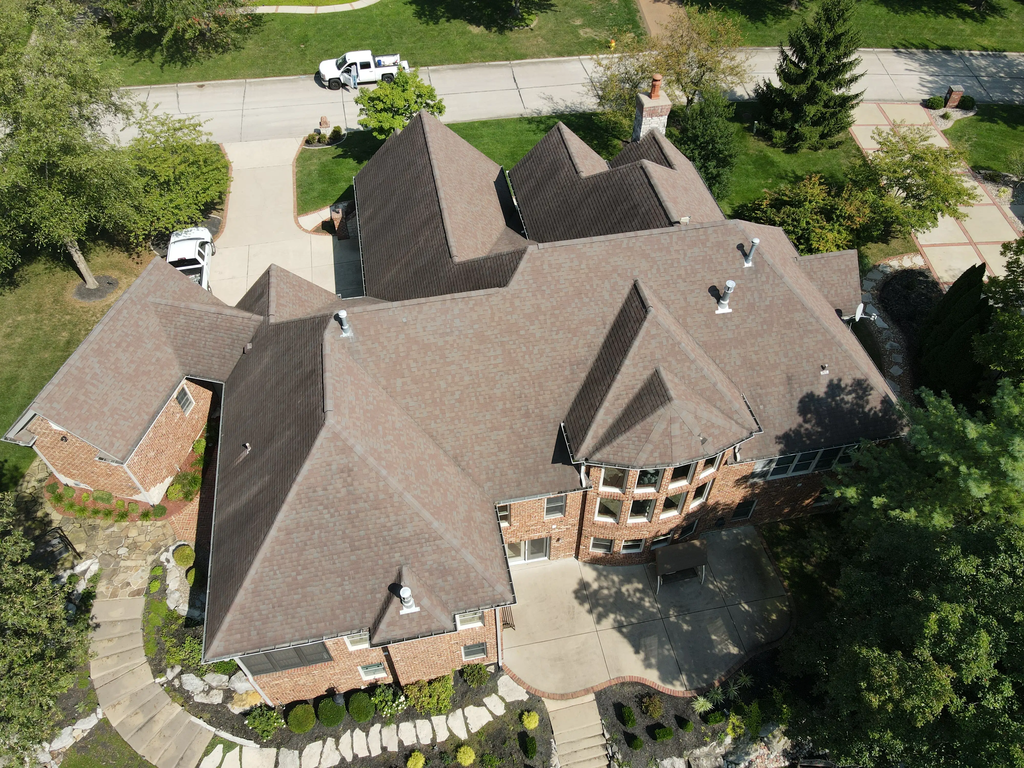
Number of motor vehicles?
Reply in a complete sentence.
Altogether the scene contains 2 motor vehicles.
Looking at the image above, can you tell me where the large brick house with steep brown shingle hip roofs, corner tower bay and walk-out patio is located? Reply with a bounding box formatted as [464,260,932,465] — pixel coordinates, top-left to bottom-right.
[0,75,918,707]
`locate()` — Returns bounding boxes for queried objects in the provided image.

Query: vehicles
[161,226,215,288]
[318,48,406,89]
